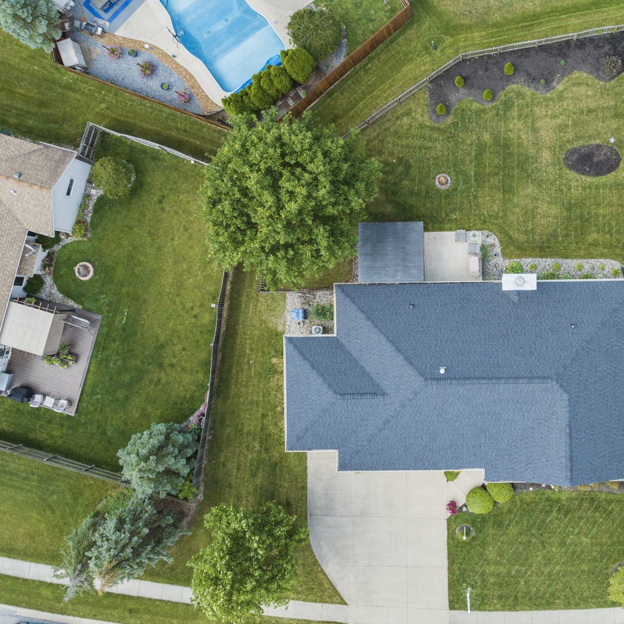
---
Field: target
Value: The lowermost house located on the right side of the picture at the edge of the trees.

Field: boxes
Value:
[283,274,624,495]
